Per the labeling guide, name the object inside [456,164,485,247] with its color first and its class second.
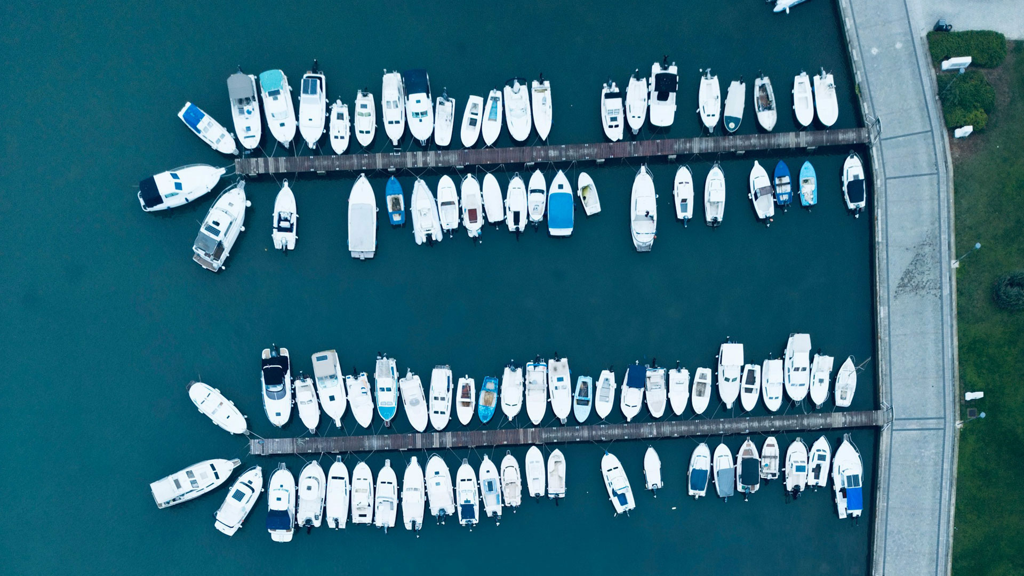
white boat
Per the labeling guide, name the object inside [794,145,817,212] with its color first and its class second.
blue boat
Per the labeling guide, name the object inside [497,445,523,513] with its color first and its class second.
white boat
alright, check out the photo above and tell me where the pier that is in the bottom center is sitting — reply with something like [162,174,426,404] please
[250,410,879,456]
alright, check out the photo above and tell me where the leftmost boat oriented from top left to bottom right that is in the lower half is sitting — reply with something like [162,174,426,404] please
[185,378,263,440]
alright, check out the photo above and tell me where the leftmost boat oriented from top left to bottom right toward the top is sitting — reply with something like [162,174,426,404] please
[177,101,240,160]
